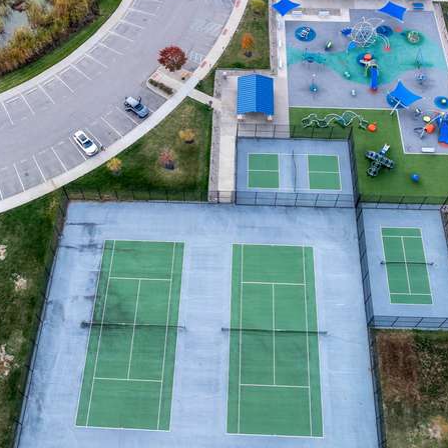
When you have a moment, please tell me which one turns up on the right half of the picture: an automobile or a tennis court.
tennis court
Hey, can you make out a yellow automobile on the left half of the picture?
No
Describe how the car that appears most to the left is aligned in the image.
on a diagonal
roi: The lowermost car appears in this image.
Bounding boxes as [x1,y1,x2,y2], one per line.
[74,130,100,158]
